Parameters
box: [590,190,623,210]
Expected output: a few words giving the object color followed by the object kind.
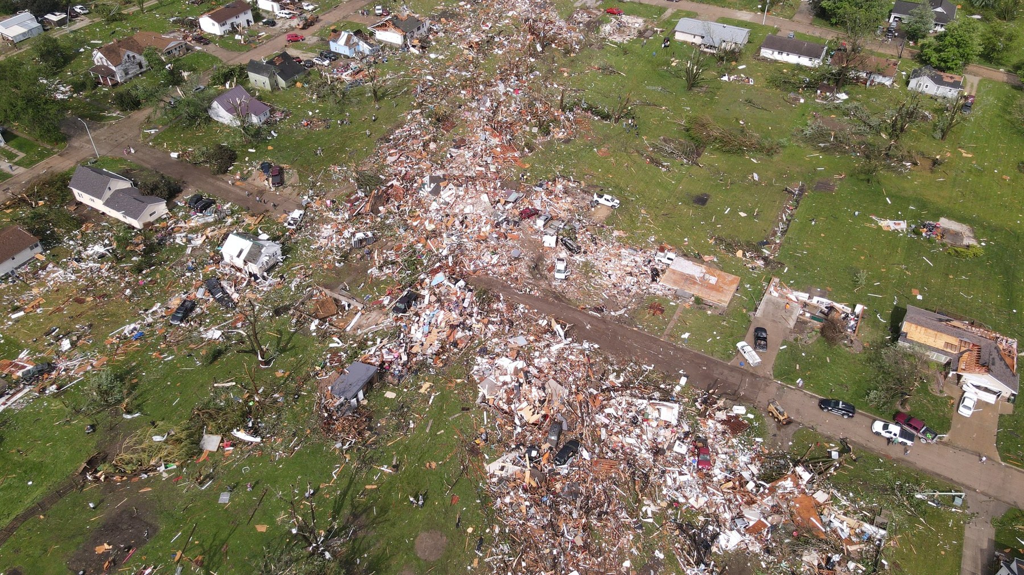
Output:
white vehicle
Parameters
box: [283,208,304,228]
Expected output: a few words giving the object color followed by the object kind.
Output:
white vehicle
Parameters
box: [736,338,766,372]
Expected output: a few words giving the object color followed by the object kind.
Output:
white truck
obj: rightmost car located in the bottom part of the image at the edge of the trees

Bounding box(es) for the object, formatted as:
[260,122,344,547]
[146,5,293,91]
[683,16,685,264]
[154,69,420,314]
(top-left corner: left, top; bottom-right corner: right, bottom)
[950,388,979,420]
